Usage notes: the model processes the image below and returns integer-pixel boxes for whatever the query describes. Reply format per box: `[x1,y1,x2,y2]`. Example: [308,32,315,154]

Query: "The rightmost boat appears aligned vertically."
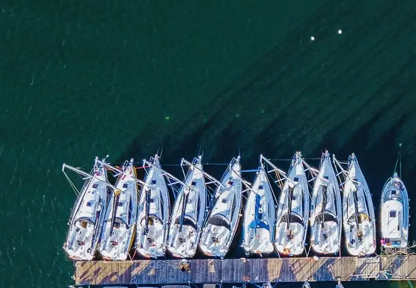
[380,158,413,254]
